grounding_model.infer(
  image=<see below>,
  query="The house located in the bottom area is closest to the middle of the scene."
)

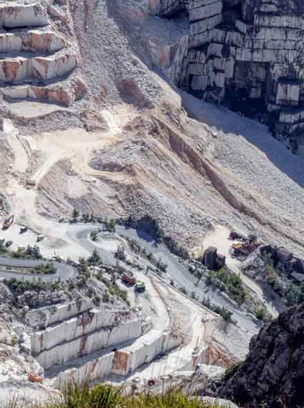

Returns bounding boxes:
[201,244,230,273]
